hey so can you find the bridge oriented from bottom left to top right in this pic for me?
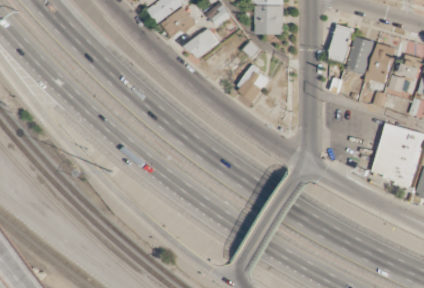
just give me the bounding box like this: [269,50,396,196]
[226,166,310,282]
